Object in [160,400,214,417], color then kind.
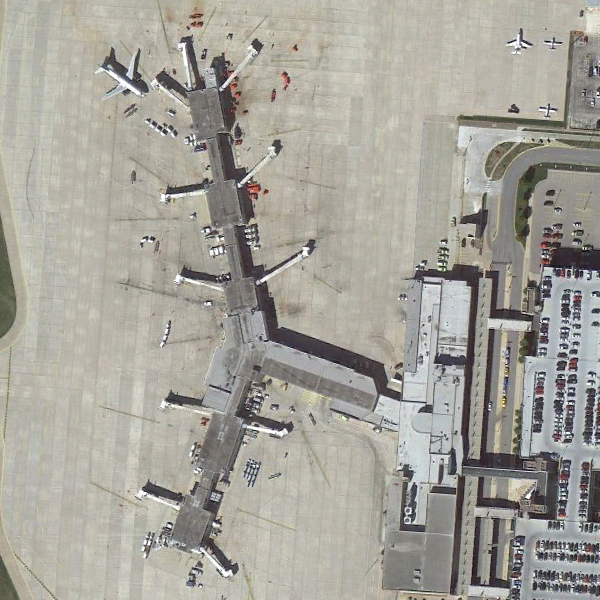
white jet bridge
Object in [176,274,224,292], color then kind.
white jet bridge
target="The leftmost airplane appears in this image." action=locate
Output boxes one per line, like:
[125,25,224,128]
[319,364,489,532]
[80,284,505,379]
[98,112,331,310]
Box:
[93,51,146,100]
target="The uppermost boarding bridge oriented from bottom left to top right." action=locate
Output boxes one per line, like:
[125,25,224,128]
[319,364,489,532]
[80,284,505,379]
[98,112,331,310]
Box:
[219,44,255,93]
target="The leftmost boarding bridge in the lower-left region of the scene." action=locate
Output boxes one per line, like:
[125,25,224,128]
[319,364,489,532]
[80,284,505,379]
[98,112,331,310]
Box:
[136,489,182,511]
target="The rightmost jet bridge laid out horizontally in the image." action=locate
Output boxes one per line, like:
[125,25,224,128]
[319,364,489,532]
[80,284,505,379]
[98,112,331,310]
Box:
[241,422,288,436]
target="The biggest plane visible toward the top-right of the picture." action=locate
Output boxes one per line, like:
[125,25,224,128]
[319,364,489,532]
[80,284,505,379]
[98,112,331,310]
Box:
[506,33,531,54]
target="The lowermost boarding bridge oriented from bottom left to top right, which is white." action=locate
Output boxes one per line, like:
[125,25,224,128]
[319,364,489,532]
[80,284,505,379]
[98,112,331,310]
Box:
[255,244,309,285]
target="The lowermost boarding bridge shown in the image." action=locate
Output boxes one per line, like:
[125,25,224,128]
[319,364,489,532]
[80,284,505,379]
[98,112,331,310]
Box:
[200,546,231,580]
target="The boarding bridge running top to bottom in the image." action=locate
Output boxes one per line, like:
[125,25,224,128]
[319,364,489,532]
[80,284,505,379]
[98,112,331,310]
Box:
[176,42,197,91]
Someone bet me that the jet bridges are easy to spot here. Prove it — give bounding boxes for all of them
[255,244,309,285]
[176,42,197,91]
[219,44,255,93]
[176,274,224,292]
[241,422,288,436]
[161,189,206,206]
[238,145,276,189]
[136,489,182,511]
[160,400,214,417]
[148,81,191,112]
[200,546,231,580]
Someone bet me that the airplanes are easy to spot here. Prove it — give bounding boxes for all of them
[506,33,531,54]
[544,41,562,54]
[538,106,557,120]
[93,51,146,100]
